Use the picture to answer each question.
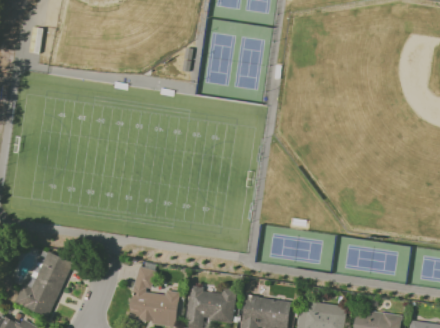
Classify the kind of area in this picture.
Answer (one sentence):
The area seen from above is a sports ground.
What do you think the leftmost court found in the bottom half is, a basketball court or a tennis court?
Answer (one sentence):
The leftmost court found in the bottom half is a tennis court.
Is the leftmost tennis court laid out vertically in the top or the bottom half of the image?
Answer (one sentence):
You can find the leftmost tennis court laid out vertically in the top half.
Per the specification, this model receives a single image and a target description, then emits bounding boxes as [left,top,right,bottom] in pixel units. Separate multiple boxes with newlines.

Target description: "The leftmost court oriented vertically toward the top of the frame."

[196,16,244,100]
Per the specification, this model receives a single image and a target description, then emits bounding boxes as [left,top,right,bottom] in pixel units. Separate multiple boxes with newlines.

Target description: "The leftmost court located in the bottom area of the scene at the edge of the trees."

[257,224,337,273]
